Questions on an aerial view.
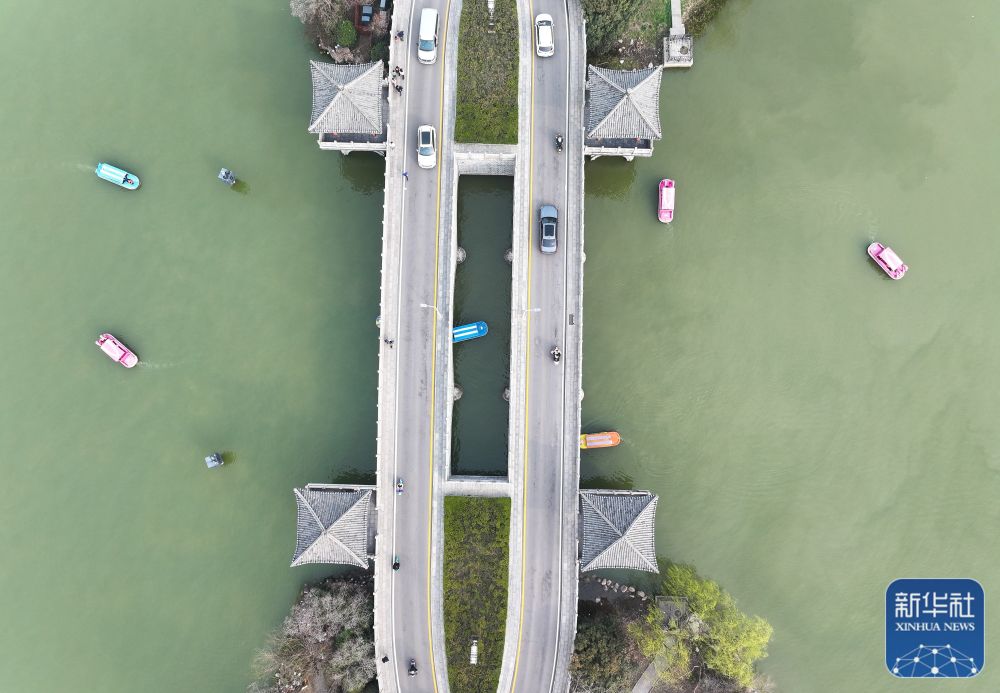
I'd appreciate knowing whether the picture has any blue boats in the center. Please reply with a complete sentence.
Yes, a blue boat shows up in the center.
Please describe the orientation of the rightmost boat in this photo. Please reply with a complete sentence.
In this picture, the rightmost boat lies diagonally.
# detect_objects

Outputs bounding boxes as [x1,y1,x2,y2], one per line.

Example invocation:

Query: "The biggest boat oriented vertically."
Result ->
[656,181,673,226]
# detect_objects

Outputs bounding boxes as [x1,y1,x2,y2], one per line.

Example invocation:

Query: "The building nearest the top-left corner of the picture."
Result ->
[308,60,389,149]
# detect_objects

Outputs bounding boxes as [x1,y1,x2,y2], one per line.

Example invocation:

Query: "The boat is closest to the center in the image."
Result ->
[455,321,489,342]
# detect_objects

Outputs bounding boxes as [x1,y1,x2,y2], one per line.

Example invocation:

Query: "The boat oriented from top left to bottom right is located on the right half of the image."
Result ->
[860,243,904,281]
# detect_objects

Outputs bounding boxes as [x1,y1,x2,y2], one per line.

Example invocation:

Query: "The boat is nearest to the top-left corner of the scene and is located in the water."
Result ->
[101,163,146,192]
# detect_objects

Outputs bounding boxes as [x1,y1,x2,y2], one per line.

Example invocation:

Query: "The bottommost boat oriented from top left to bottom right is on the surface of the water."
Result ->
[101,334,143,370]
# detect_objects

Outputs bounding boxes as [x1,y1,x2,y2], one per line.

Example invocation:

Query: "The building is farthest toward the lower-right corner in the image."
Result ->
[579,489,660,574]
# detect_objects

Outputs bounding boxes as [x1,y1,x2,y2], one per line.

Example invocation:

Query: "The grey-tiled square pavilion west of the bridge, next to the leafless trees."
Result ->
[290,485,376,569]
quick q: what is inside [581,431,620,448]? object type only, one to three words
boat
